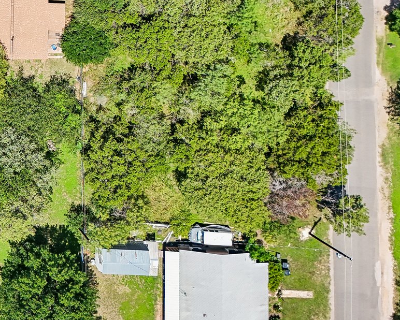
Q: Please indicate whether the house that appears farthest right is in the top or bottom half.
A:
bottom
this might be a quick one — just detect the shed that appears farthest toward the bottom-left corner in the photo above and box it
[92,243,150,275]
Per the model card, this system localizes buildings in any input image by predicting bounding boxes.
[92,243,150,275]
[159,245,269,320]
[0,0,65,59]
